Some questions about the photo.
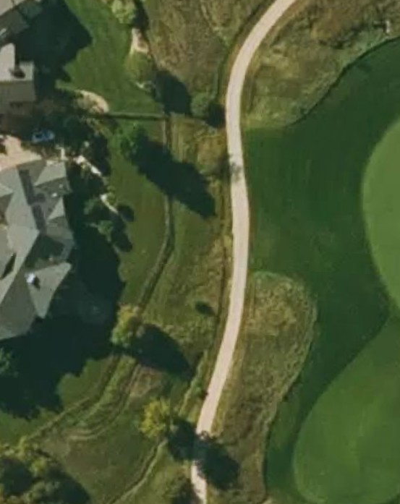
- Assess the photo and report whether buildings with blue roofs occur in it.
No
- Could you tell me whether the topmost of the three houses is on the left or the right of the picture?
left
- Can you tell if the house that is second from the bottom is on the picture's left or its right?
left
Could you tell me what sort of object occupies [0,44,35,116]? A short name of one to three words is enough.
house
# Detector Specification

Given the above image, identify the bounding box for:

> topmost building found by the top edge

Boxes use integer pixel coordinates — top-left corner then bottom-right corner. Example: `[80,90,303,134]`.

[0,0,45,44]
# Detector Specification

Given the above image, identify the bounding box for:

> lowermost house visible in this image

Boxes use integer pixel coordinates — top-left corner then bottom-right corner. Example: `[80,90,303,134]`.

[0,155,77,336]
